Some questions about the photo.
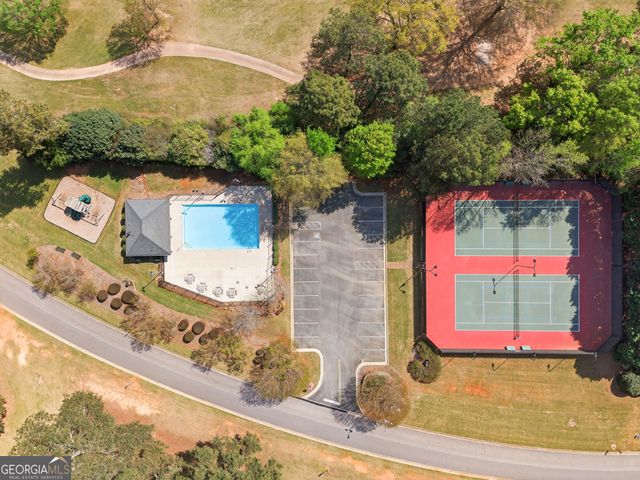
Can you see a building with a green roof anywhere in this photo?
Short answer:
No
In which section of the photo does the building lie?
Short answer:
left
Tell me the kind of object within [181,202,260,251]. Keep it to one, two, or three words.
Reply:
swimming pool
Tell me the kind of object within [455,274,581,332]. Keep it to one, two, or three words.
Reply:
tennis court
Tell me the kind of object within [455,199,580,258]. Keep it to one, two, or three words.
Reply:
tennis court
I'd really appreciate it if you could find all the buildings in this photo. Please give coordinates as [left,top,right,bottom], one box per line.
[126,199,174,256]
